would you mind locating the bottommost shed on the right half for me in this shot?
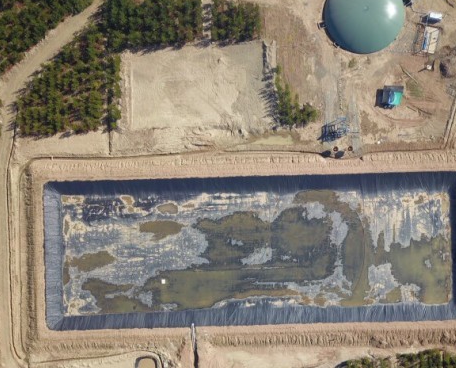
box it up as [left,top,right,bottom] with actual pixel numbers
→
[385,85,404,107]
